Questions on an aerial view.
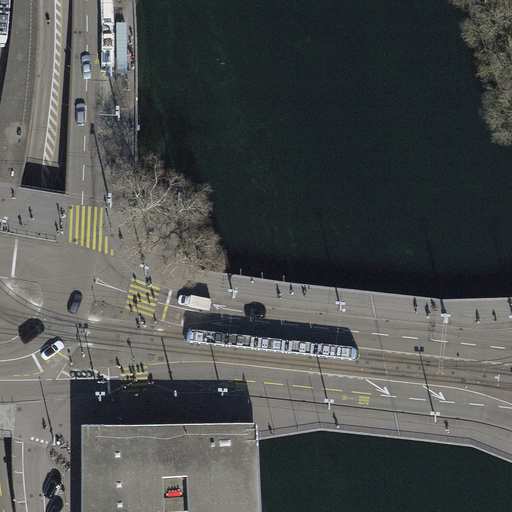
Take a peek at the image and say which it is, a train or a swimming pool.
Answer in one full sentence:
It is a train that can be seen here.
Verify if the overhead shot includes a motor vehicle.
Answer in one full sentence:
Yes, you can see a motor vehicle in this photo.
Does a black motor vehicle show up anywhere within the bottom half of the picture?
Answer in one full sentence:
Yes, within the bottom half of the picture there is a black motor vehicle.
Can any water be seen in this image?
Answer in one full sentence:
Yes, there is water in the image.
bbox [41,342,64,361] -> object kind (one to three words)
car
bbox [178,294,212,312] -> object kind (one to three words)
vehicle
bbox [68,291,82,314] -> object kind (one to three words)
vehicle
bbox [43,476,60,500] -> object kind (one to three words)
car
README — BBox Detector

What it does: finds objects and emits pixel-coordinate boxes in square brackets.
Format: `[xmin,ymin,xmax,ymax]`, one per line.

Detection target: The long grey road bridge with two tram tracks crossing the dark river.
[222,272,512,465]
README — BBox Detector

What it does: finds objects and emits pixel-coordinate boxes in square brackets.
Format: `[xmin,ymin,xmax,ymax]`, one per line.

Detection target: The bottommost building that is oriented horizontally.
[79,424,262,512]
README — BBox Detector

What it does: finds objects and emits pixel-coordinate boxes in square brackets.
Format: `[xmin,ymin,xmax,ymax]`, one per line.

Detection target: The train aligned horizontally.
[186,331,358,360]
